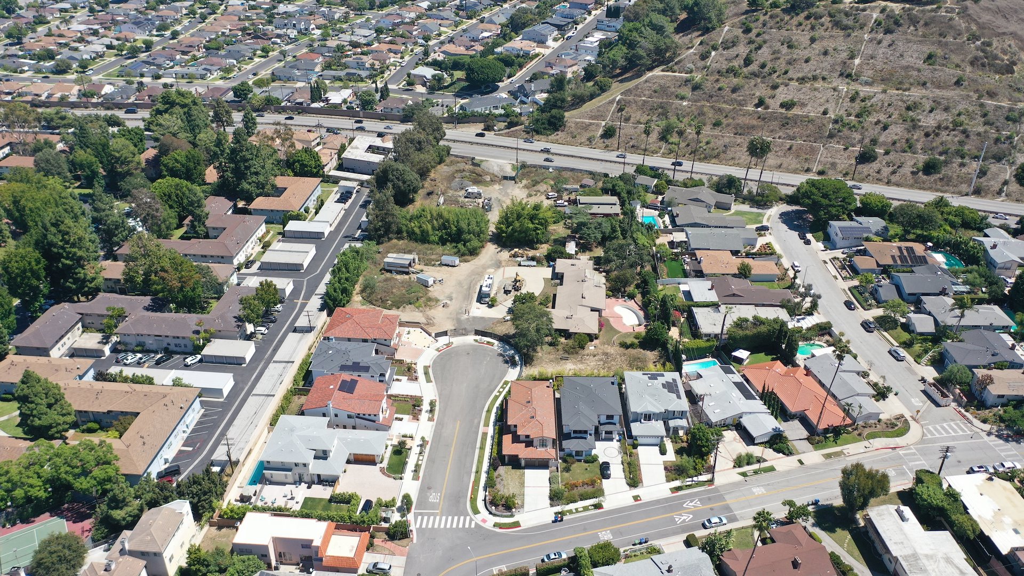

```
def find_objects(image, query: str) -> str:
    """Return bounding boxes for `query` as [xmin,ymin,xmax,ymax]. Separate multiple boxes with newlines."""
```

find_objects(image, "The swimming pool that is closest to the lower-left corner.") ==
[247,463,264,486]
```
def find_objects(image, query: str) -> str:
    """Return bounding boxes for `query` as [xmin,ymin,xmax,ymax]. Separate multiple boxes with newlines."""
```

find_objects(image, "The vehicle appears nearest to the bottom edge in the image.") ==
[366,559,393,574]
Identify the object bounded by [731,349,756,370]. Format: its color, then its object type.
white gazebo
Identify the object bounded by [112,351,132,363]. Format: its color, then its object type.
gray vehicle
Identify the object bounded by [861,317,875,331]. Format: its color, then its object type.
gray car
